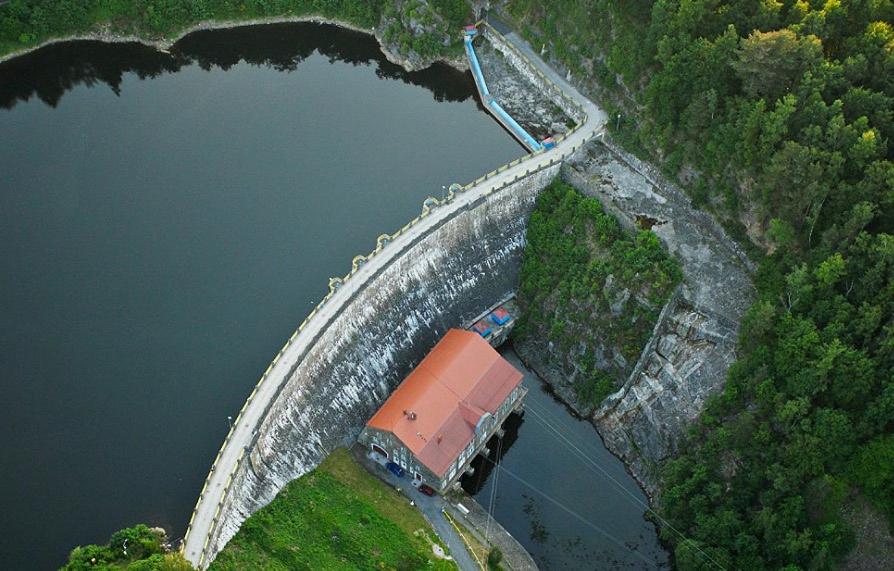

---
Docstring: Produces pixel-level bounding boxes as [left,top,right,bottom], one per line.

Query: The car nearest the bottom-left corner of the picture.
[382,458,403,476]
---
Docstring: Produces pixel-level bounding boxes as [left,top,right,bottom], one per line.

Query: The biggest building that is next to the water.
[359,327,528,498]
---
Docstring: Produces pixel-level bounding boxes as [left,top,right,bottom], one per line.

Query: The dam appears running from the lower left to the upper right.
[173,148,564,571]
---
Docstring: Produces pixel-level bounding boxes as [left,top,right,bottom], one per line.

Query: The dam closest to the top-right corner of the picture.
[464,22,559,152]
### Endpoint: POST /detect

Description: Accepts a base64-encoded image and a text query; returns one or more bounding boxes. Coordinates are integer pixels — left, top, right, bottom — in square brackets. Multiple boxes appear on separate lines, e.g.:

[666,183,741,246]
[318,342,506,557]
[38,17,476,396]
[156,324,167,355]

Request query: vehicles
[416,480,437,497]
[382,458,403,476]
